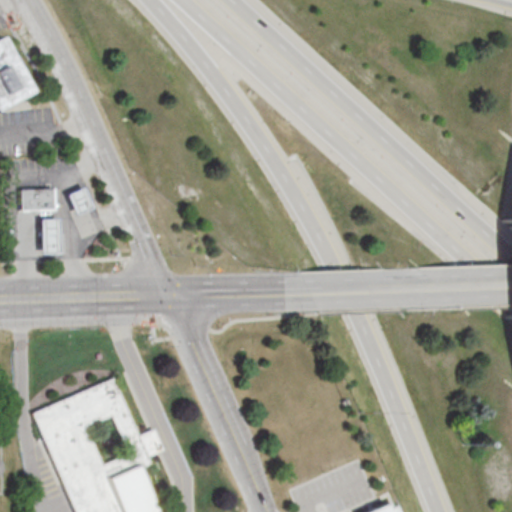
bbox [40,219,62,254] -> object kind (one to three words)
shed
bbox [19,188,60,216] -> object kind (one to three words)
building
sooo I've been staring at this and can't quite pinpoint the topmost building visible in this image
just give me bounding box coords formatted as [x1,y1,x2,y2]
[0,36,40,110]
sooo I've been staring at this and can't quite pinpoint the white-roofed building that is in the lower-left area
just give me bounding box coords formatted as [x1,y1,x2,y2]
[30,378,173,512]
